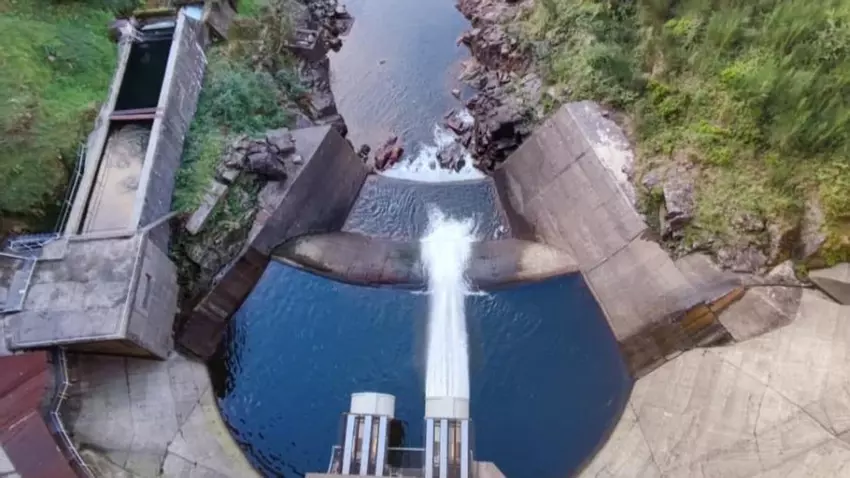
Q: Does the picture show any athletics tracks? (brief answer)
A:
No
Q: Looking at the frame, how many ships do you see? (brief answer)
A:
none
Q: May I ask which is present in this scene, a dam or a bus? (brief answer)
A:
dam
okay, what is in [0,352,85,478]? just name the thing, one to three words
building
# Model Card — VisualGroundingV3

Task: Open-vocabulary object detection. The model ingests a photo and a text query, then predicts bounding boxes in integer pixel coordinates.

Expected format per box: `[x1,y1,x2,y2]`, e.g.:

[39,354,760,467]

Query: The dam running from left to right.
[268,234,578,288]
